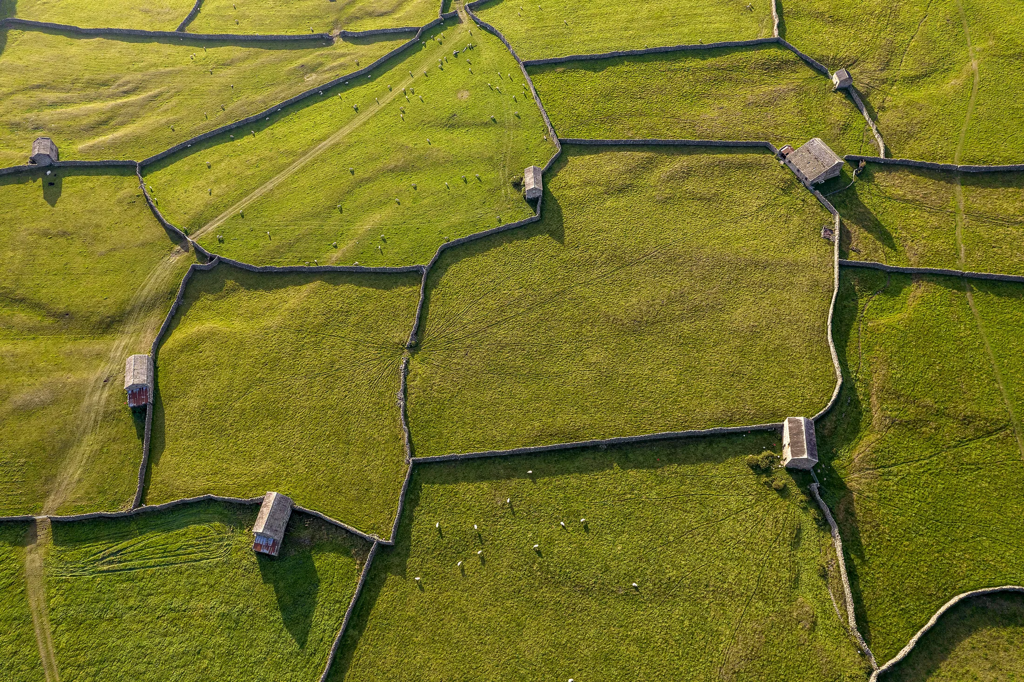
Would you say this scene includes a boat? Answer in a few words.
No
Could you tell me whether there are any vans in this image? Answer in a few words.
No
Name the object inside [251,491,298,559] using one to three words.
barn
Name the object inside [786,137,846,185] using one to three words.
barn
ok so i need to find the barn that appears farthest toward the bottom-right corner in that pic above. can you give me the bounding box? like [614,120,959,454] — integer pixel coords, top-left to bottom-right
[782,415,819,470]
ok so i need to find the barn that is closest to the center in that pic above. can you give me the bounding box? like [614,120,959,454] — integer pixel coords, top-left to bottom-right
[524,165,543,198]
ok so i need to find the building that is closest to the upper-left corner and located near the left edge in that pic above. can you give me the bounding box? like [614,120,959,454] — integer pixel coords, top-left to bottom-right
[31,136,57,164]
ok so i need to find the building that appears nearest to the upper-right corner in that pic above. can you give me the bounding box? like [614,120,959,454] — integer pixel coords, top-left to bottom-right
[833,68,853,89]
